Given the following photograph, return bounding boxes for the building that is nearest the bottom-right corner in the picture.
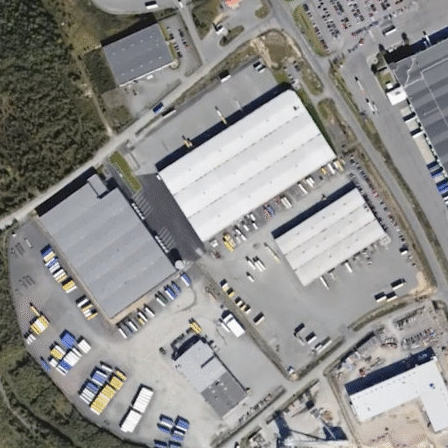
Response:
[350,357,448,431]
